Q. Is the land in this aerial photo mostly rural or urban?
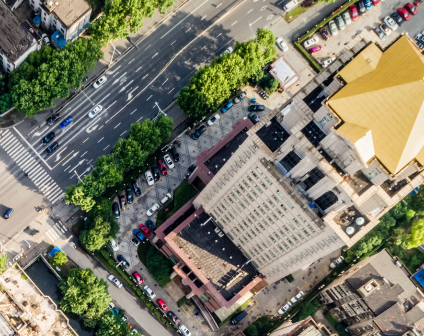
urban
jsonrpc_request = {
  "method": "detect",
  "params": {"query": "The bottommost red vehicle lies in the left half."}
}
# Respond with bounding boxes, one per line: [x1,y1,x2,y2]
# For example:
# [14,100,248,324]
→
[156,297,169,312]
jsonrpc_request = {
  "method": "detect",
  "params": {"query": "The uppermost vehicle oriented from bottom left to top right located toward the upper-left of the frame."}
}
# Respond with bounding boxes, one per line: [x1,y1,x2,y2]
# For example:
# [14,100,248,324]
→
[93,75,108,88]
